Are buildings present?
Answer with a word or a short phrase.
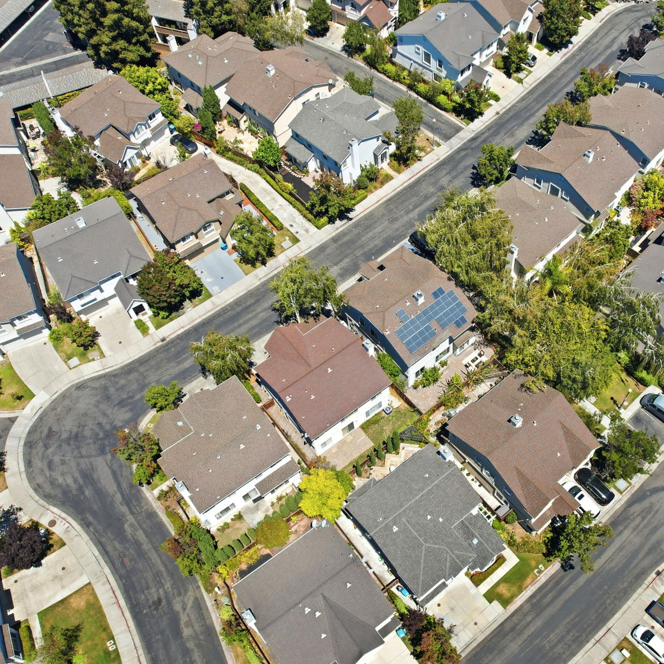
Yes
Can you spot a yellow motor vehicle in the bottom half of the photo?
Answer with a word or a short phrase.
No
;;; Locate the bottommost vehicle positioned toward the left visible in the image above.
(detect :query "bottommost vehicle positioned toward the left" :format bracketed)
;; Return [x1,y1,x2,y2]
[168,134,198,153]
